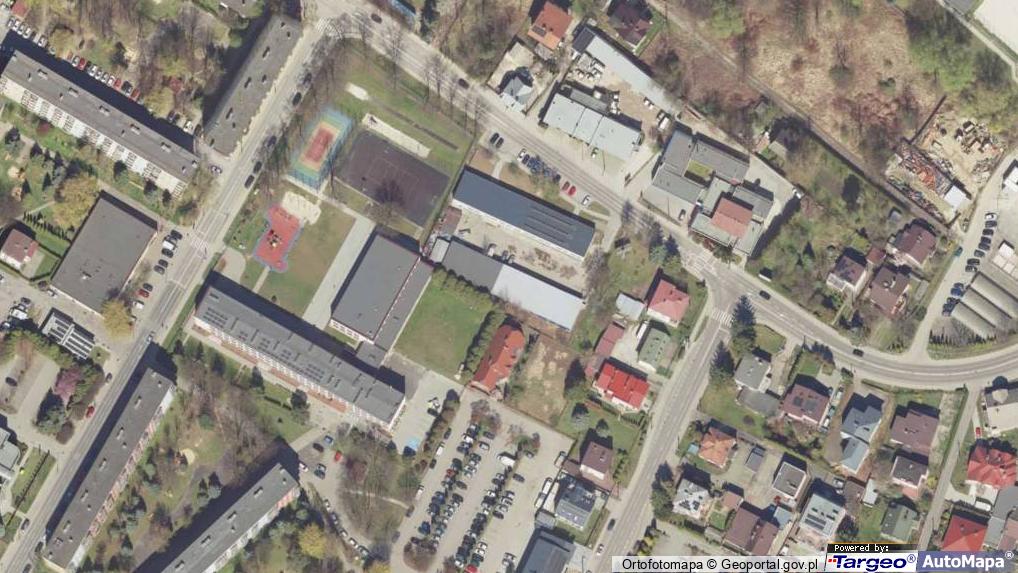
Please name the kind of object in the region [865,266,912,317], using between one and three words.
house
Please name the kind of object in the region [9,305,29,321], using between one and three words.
vehicle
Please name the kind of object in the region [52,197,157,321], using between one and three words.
building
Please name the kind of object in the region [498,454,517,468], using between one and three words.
vehicle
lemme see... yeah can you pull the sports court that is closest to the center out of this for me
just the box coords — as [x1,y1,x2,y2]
[336,120,452,227]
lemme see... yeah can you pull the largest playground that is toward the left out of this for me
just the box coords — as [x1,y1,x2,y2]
[254,205,303,272]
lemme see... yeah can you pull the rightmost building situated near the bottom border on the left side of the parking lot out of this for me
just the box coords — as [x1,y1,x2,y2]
[165,464,300,573]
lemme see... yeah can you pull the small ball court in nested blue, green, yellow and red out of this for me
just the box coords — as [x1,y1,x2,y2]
[286,103,354,191]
